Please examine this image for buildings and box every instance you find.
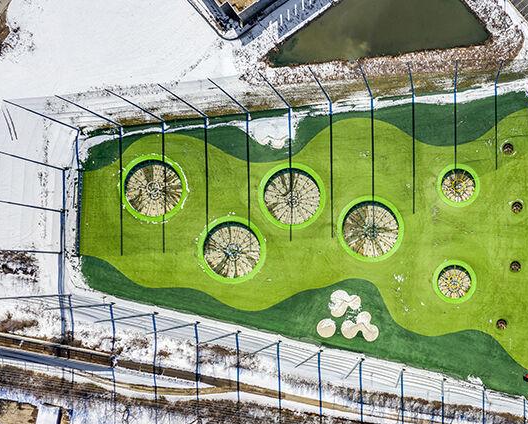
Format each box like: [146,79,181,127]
[37,403,66,424]
[213,0,278,26]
